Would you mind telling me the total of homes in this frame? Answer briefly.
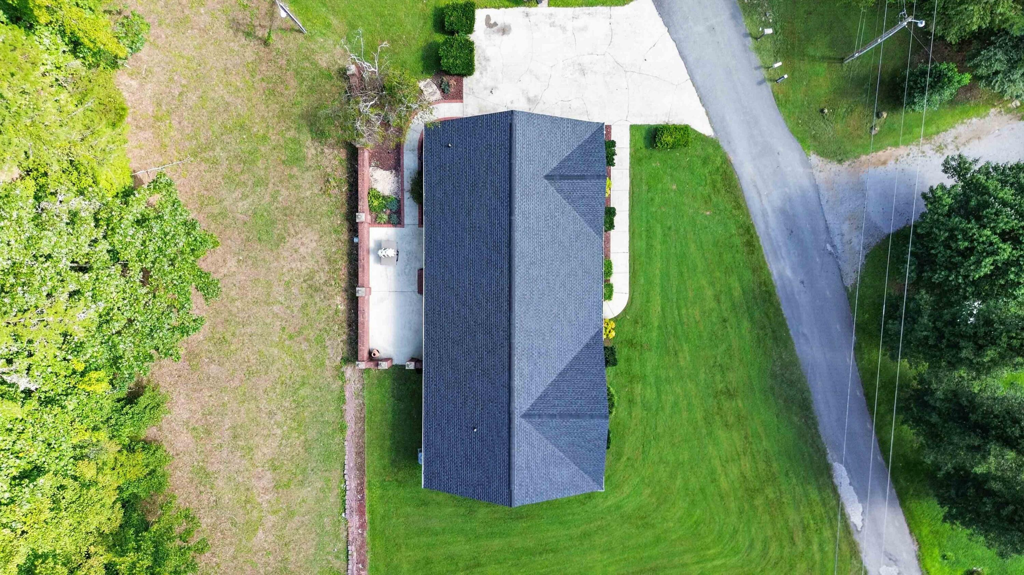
1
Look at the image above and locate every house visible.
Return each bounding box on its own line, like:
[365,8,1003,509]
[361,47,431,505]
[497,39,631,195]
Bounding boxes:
[421,110,609,507]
